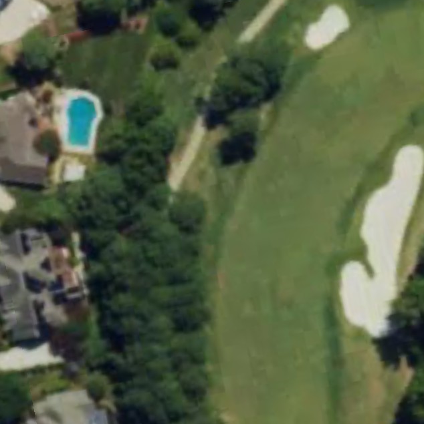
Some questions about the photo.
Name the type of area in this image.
golf course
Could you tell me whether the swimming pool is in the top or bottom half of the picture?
top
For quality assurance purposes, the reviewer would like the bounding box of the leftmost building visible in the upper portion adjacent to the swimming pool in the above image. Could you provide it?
[0,92,48,185]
